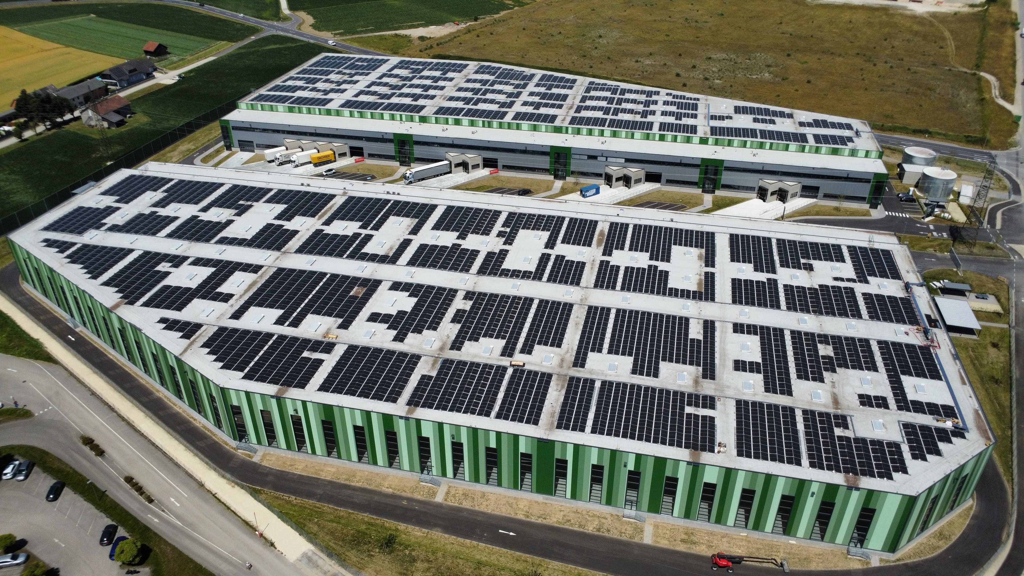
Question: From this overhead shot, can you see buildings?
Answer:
Yes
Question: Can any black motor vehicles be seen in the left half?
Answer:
Yes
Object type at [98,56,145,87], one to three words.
house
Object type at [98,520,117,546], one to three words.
car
